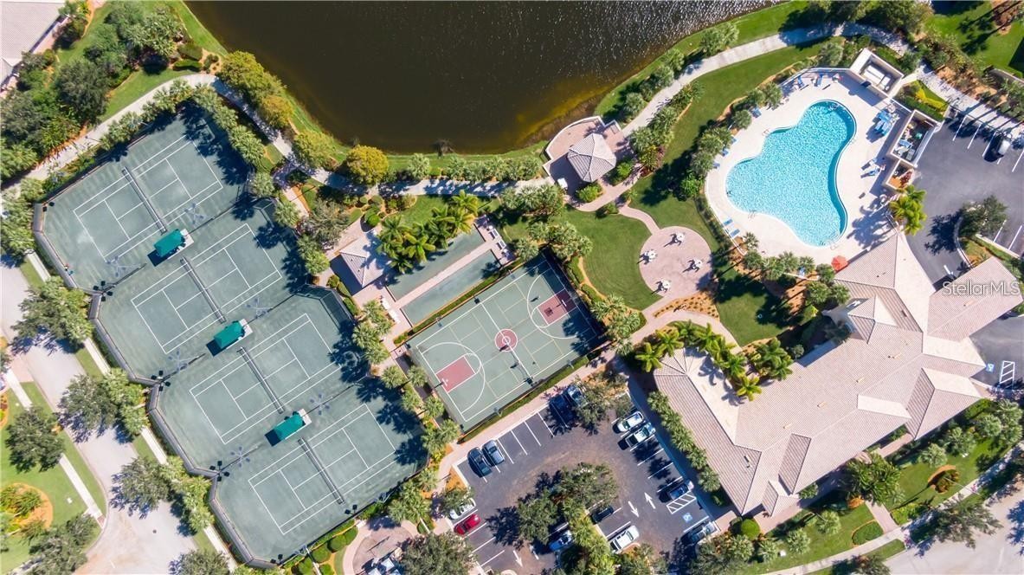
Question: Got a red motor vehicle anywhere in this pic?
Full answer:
Yes, you can see a red motor vehicle in this photo.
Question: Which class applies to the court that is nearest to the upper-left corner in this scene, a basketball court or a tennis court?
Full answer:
I'd say the court that is nearest to the upper-left corner is a tennis court.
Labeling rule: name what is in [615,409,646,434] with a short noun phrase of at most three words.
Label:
car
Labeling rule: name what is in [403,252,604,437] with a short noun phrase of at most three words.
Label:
basketball court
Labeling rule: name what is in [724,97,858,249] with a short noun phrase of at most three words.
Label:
swimming pool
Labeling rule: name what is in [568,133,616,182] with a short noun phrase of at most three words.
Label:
gazebo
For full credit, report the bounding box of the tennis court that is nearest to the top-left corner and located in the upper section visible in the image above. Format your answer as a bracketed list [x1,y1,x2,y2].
[43,106,266,291]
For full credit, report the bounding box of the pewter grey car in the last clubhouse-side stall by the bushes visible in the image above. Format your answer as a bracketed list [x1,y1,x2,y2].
[689,520,719,544]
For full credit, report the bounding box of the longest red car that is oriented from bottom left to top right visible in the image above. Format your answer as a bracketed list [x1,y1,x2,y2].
[454,512,482,534]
